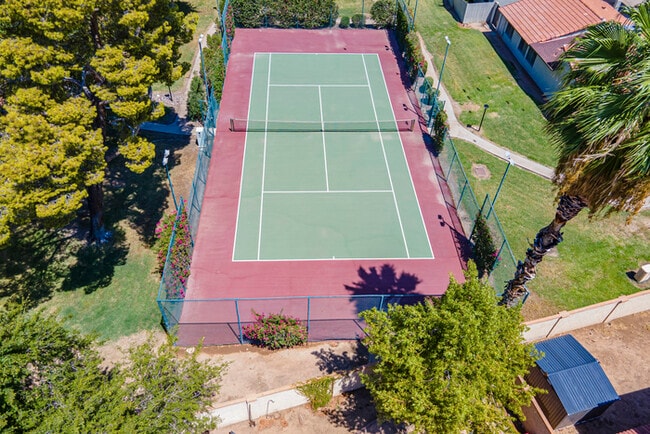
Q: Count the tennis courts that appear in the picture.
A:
1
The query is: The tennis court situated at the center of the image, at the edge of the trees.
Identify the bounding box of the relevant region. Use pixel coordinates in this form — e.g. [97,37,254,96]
[175,27,489,346]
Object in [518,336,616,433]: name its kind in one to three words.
shed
